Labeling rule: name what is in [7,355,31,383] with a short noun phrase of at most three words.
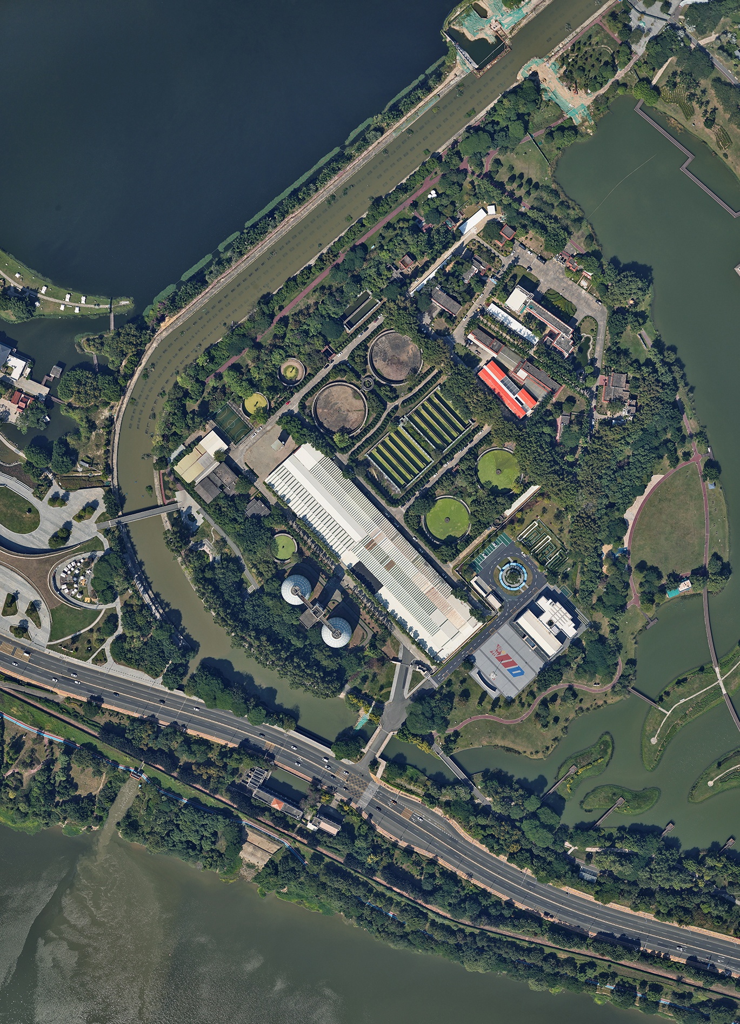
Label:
house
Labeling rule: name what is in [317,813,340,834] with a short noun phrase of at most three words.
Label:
building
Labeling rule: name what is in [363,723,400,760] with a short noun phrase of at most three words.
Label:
bridge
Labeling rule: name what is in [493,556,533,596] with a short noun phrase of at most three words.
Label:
roundabout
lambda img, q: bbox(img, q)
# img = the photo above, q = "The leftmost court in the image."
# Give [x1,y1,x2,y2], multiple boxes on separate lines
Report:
[210,402,253,448]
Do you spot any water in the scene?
Yes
